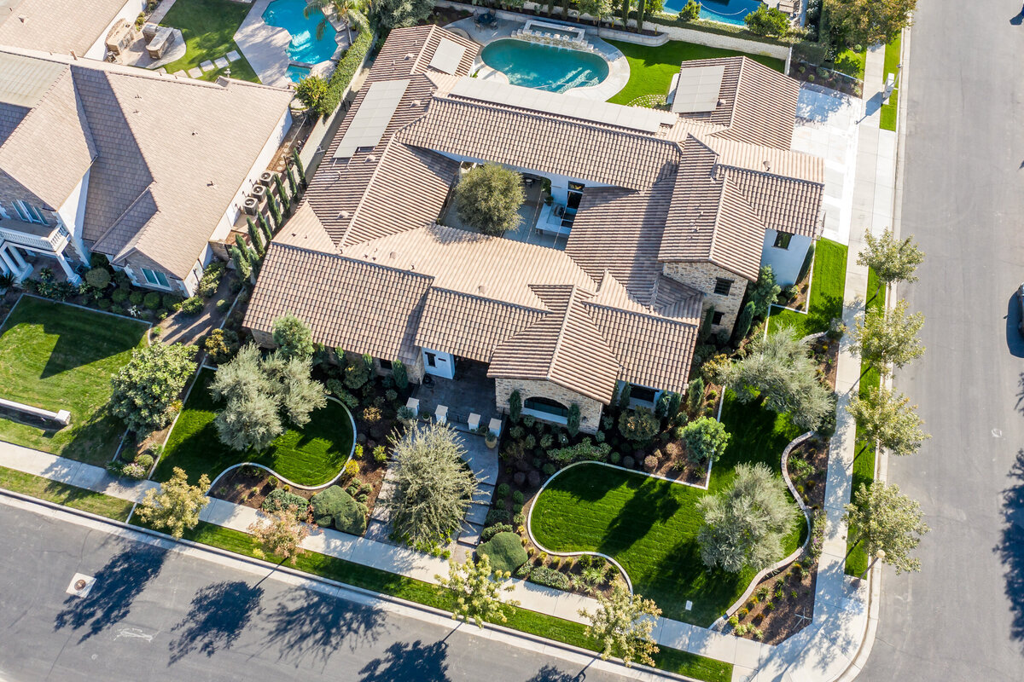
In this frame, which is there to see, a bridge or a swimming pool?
swimming pool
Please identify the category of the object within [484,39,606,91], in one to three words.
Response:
swimming pool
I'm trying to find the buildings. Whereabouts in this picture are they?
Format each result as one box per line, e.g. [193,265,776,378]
[0,0,296,300]
[241,22,826,434]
